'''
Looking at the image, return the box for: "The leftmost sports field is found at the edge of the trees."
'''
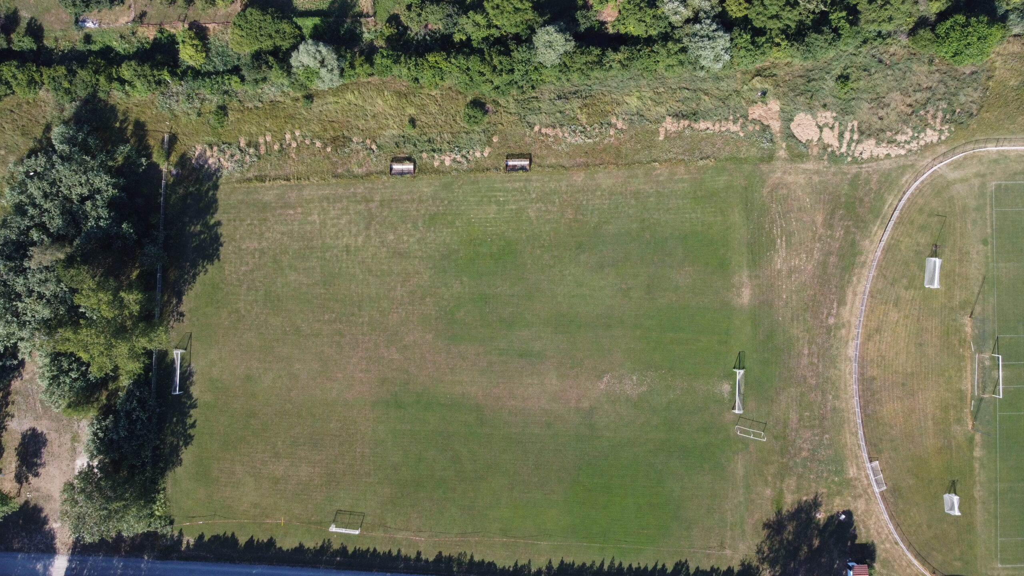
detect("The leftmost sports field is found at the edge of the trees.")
[174,164,756,549]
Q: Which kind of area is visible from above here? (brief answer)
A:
sports ground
